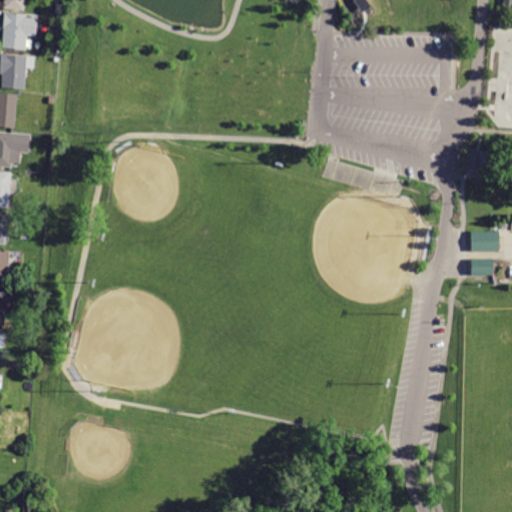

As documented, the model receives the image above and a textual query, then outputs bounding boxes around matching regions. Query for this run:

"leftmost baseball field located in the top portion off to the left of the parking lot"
[113,146,180,222]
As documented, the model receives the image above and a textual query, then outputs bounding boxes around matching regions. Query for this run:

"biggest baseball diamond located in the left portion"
[76,288,182,390]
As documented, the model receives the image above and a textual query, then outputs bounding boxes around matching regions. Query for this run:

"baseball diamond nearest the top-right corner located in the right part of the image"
[312,195,414,304]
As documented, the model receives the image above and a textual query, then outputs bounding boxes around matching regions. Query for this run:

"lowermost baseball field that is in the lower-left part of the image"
[69,420,132,480]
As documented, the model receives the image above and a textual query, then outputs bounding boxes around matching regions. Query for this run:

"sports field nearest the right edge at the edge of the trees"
[460,307,512,512]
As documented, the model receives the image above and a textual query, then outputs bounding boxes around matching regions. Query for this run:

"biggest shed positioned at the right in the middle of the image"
[471,232,500,251]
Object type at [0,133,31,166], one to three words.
house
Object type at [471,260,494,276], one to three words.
shed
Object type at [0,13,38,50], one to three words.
house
